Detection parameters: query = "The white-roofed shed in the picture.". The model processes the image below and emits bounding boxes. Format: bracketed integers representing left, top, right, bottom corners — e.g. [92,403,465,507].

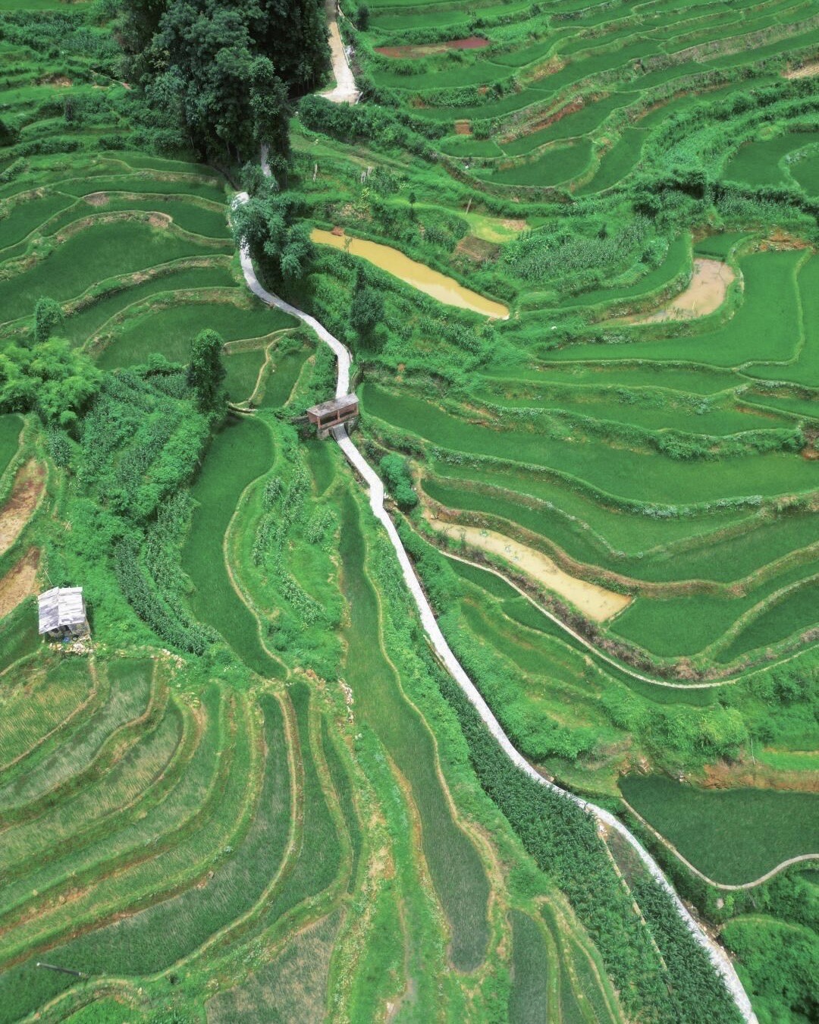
[37,586,91,641]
